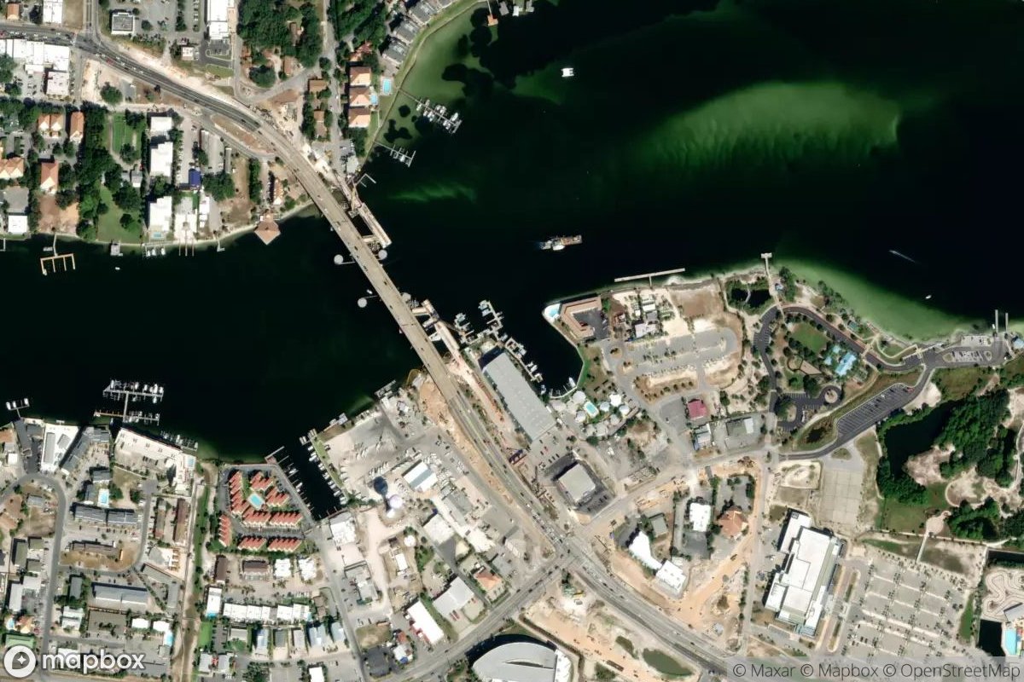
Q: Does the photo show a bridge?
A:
Yes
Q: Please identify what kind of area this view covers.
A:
port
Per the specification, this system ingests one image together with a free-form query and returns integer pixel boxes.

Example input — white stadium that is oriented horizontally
[472,643,571,682]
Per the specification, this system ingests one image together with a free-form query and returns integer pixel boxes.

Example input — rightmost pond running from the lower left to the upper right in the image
[884,401,959,470]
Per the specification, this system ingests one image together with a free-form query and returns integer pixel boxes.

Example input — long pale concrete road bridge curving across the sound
[250,121,462,399]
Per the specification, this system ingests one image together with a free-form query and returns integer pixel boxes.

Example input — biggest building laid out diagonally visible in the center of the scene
[481,353,556,445]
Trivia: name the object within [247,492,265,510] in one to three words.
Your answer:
swimming pool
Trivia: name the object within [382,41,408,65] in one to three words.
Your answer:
house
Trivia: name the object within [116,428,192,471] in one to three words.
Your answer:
building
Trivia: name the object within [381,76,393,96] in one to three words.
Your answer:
swimming pool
